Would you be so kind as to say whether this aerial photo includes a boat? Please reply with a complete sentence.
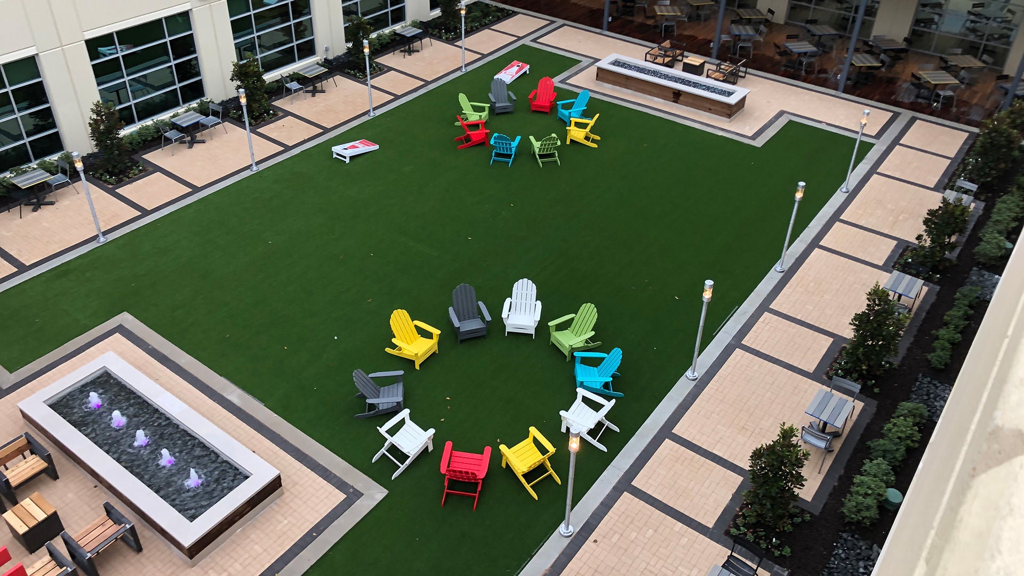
No, I can see no boat in this picture.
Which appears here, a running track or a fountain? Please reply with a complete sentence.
There is a fountain in the scene.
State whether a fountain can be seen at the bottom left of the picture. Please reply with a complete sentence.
Yes, the scene does show a fountain at the bottom left of the picture.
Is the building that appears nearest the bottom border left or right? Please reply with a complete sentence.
It is on the right.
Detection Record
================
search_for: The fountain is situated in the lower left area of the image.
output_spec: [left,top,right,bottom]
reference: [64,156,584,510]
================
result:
[20,350,283,569]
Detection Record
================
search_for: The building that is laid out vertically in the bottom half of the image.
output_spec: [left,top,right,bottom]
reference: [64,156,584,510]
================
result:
[875,224,1024,576]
